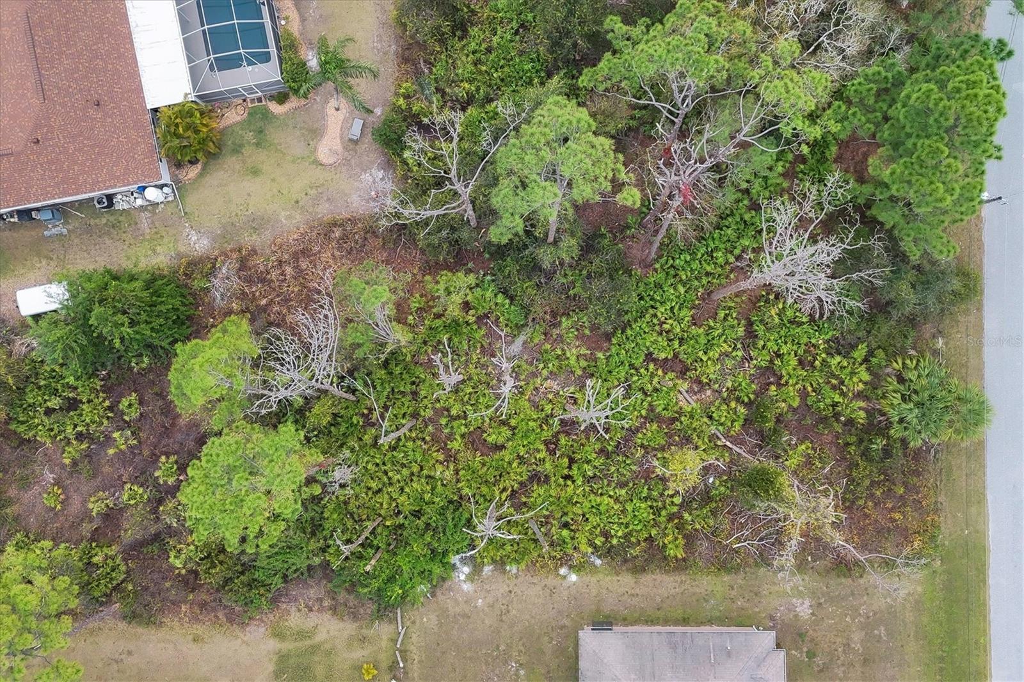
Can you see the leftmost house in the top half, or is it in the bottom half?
top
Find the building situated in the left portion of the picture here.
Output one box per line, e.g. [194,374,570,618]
[0,0,210,215]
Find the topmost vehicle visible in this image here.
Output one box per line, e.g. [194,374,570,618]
[37,206,63,224]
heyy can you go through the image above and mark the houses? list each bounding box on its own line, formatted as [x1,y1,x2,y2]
[0,0,210,215]
[577,612,788,682]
